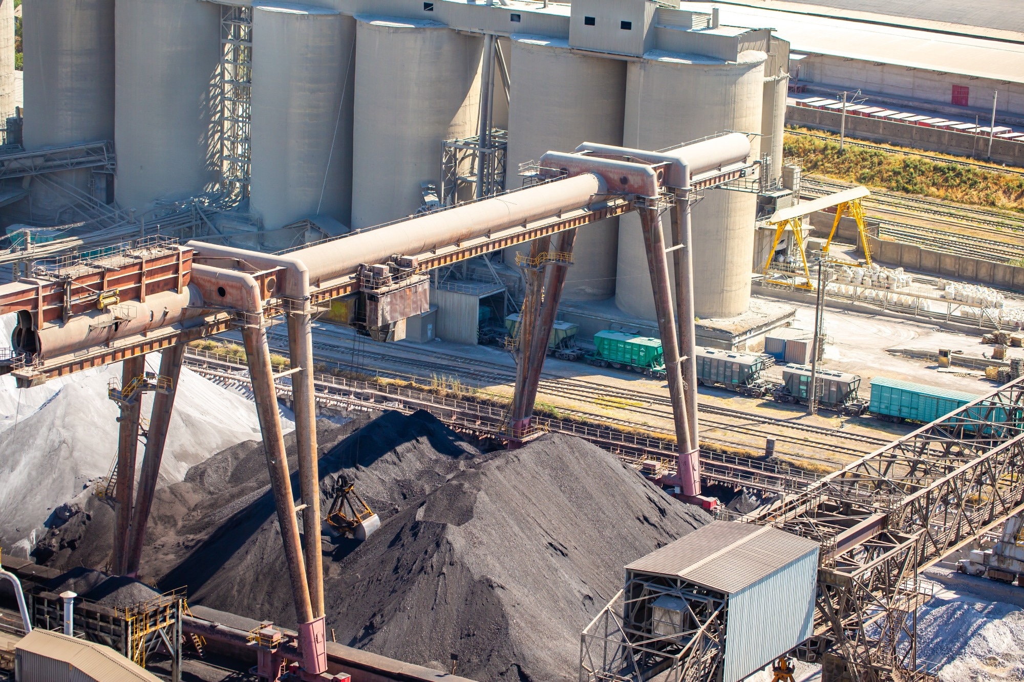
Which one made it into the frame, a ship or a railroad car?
railroad car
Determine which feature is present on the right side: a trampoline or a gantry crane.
gantry crane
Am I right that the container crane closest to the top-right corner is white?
Yes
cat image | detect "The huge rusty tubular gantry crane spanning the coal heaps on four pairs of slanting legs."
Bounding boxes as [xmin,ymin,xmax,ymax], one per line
[0,122,799,682]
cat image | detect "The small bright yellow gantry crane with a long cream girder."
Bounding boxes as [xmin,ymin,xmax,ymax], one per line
[774,178,881,284]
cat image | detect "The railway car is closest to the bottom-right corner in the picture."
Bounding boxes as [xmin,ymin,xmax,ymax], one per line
[770,361,871,415]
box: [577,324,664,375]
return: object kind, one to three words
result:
rail car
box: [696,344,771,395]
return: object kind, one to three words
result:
rail car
